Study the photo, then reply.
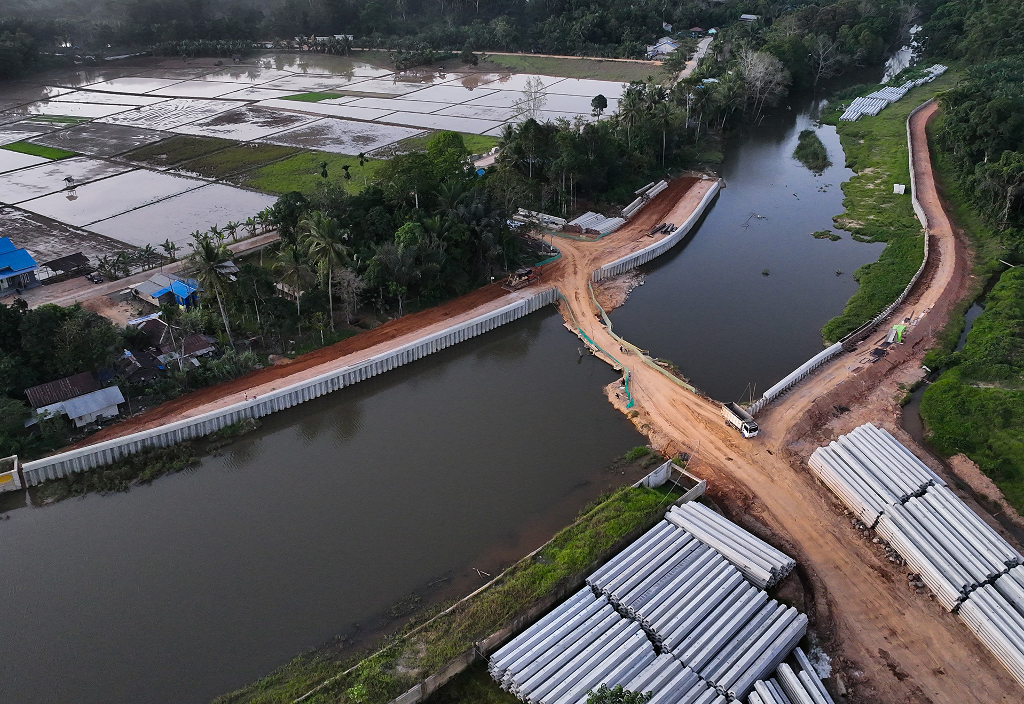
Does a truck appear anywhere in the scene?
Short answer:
Yes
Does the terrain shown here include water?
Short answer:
Yes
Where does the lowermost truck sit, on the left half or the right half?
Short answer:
right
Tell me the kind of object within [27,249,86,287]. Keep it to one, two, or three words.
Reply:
building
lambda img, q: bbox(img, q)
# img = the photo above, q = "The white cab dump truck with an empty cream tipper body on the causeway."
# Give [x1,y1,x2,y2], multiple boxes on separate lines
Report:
[722,397,768,438]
